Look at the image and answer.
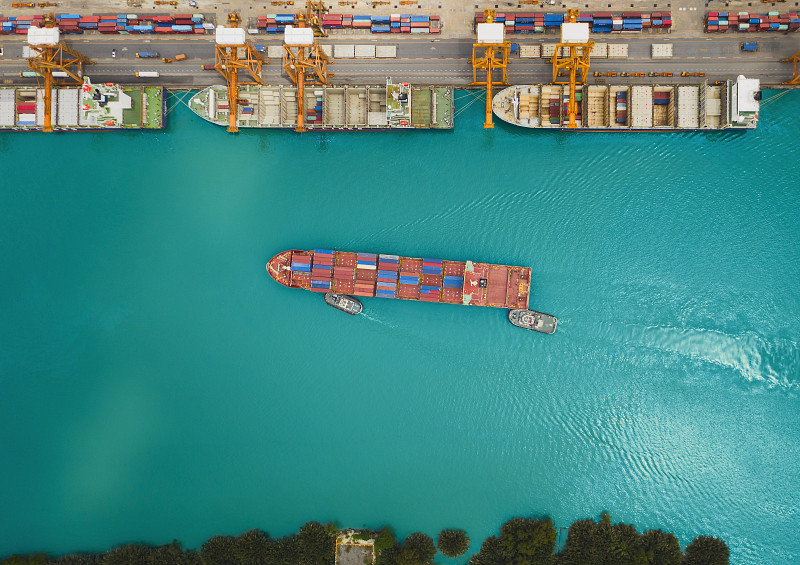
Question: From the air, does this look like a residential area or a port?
port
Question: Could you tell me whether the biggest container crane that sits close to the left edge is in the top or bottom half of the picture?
top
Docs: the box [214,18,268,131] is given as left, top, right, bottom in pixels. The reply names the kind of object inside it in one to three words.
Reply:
container crane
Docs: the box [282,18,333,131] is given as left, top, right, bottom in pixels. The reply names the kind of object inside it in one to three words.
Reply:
container crane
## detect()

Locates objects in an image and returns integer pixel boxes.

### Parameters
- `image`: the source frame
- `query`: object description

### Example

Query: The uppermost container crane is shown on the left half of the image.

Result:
[307,0,329,37]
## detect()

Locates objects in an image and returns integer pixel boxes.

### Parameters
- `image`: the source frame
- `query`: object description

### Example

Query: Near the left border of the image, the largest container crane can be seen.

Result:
[27,18,94,131]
